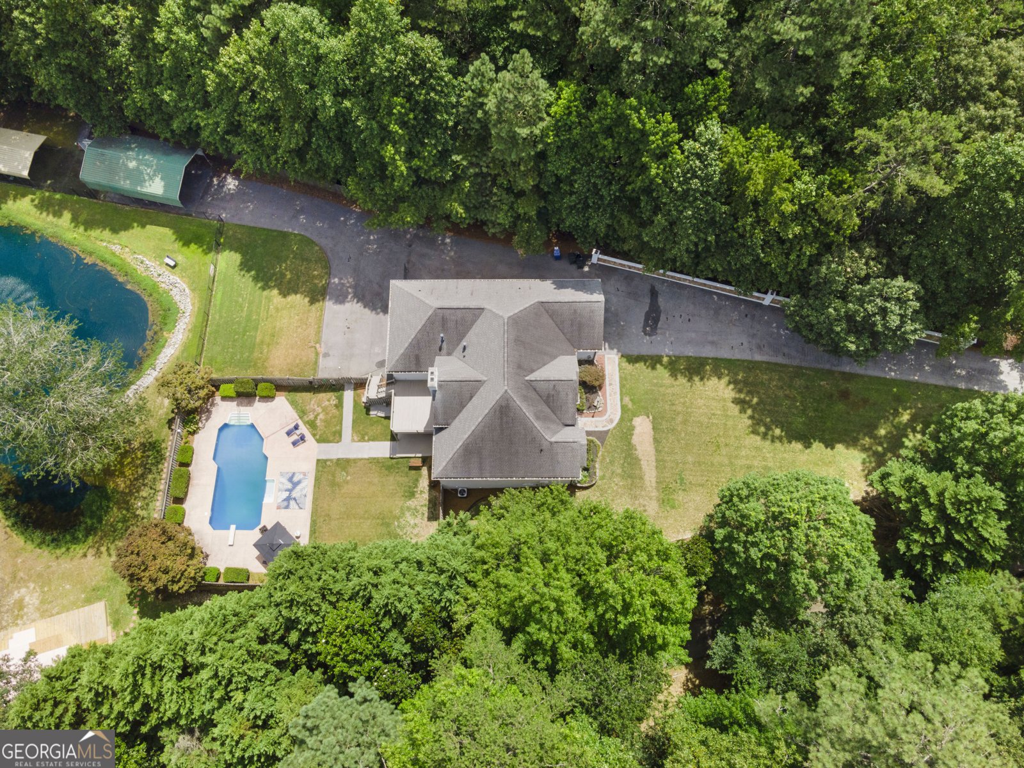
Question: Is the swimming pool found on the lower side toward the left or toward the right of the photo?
left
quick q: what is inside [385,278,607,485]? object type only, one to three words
house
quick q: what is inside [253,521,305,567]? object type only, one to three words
umbrella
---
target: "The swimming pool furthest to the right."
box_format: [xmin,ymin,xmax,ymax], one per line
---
[186,396,317,573]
